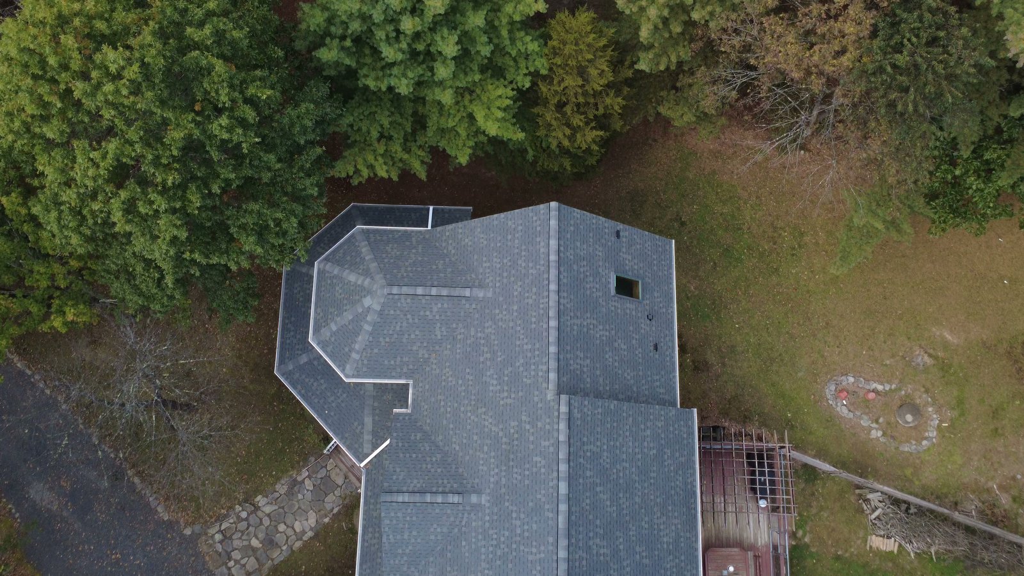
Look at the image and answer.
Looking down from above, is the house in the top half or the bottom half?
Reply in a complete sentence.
Seen from above, the house lies in the bottom half of the view.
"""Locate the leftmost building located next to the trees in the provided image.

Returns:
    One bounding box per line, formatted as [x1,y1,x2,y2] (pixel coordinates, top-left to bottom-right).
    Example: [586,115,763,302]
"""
[272,200,705,576]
